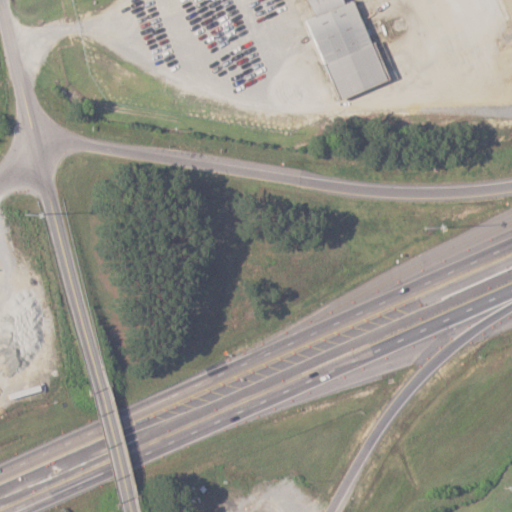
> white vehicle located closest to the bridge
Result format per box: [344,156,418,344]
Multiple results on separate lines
[6,384,46,400]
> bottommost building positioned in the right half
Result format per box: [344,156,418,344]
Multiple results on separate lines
[325,46,390,100]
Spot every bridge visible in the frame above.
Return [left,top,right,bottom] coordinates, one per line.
[92,388,140,512]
